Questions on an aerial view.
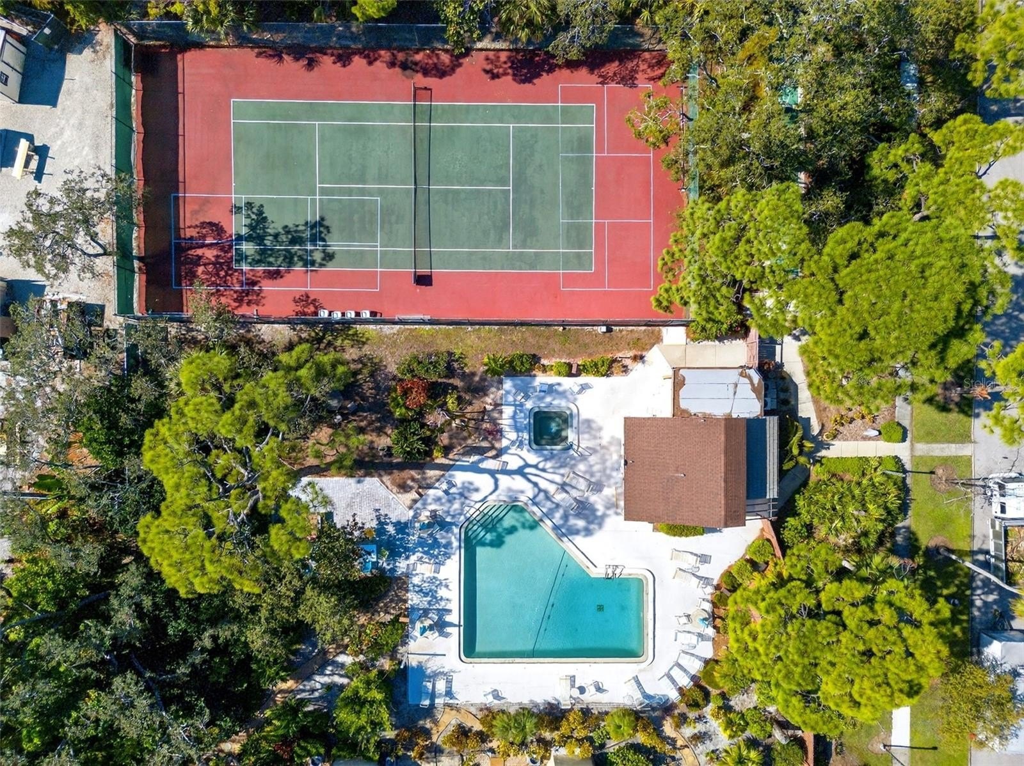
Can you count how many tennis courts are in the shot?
1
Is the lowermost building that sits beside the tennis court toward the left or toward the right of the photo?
right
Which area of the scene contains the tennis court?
top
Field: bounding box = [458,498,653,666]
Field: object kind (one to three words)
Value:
swimming pool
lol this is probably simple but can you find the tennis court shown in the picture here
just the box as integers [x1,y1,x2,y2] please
[133,45,691,320]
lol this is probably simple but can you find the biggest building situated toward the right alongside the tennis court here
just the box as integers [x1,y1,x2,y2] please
[623,364,779,527]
